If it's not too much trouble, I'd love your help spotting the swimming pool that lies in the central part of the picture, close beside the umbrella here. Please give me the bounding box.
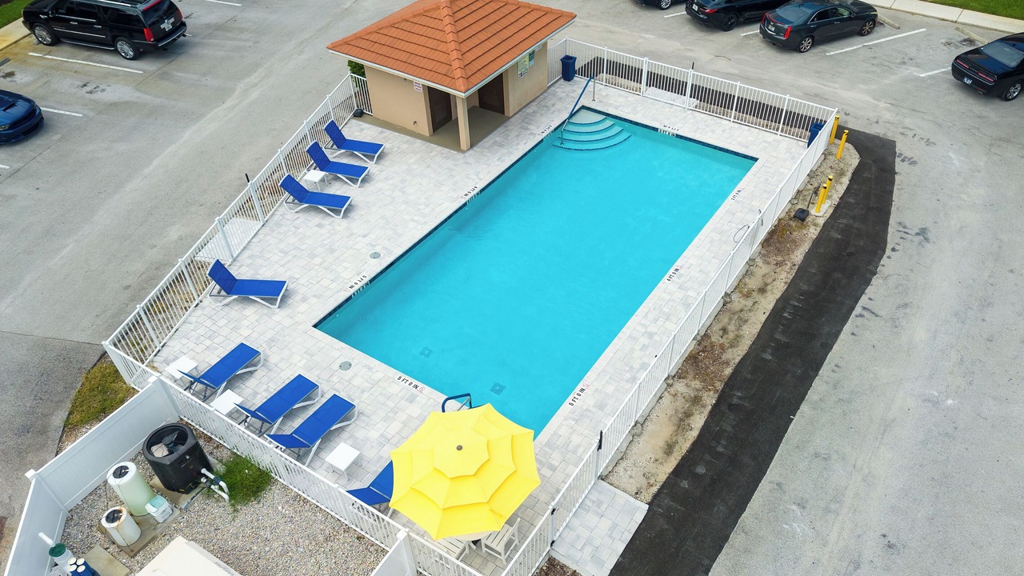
[296,102,768,456]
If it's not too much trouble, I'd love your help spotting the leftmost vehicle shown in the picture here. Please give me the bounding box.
[0,87,47,145]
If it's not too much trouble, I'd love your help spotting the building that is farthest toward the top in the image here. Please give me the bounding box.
[323,0,580,152]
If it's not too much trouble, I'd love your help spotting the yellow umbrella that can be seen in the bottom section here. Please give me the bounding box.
[387,405,542,543]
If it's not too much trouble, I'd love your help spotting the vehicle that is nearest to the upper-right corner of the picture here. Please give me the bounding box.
[944,26,1024,102]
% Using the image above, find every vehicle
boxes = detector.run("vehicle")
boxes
[10,0,193,61]
[678,0,787,33]
[944,26,1024,102]
[0,87,47,145]
[635,0,675,11]
[754,0,889,53]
